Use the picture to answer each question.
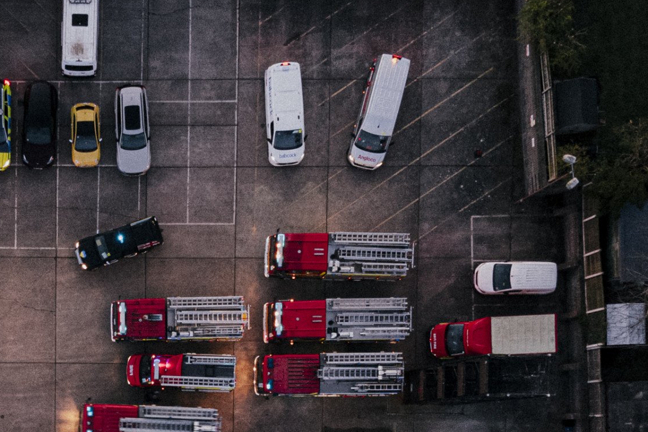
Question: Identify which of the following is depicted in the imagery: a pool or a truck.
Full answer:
There is a truck in the scene.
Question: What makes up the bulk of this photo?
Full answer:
For the most part, this view shows paved ground.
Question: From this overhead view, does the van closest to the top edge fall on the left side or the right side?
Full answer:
The van closest to the top edge sits on the left side.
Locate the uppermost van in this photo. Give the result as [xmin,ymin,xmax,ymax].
[62,0,98,75]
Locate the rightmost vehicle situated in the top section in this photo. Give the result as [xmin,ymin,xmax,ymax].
[353,50,417,172]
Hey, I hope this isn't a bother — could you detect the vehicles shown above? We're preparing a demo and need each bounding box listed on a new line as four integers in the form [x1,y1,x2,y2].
[19,80,59,170]
[473,258,562,297]
[353,50,417,172]
[73,215,165,271]
[68,104,104,168]
[112,85,153,175]
[126,352,237,390]
[260,227,413,283]
[109,292,247,348]
[259,293,410,349]
[249,347,405,403]
[62,0,98,75]
[0,80,14,171]
[265,58,307,167]
[76,395,220,432]
[423,312,564,357]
